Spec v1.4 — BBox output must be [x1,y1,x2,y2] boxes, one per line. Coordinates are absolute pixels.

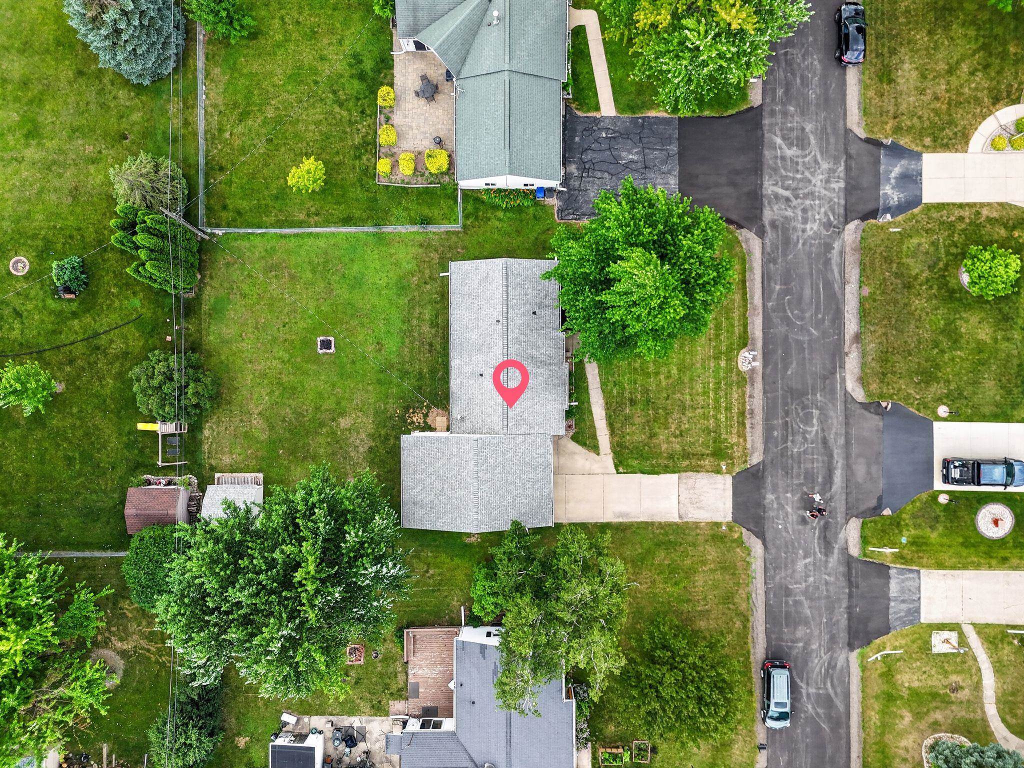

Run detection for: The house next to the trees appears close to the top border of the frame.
[391,0,571,190]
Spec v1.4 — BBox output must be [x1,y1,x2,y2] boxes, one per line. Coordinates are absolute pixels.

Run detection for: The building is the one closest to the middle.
[400,256,578,533]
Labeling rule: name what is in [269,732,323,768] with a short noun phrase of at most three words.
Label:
shed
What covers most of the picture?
grass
